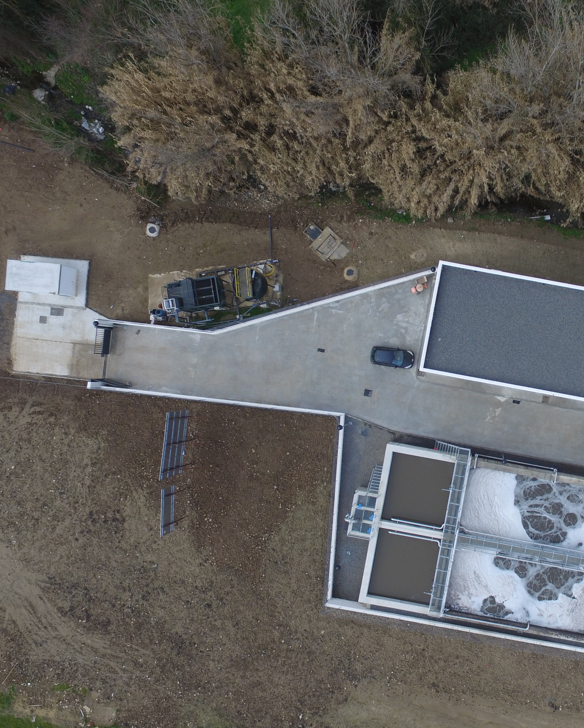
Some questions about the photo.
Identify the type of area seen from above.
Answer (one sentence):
It's an industrial area.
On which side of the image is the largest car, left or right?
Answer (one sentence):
It is on the right.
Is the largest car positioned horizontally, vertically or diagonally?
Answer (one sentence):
From this overhead view, the largest car appears to run horizontally.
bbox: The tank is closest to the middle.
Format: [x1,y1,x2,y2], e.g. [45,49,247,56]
[225,266,274,307]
